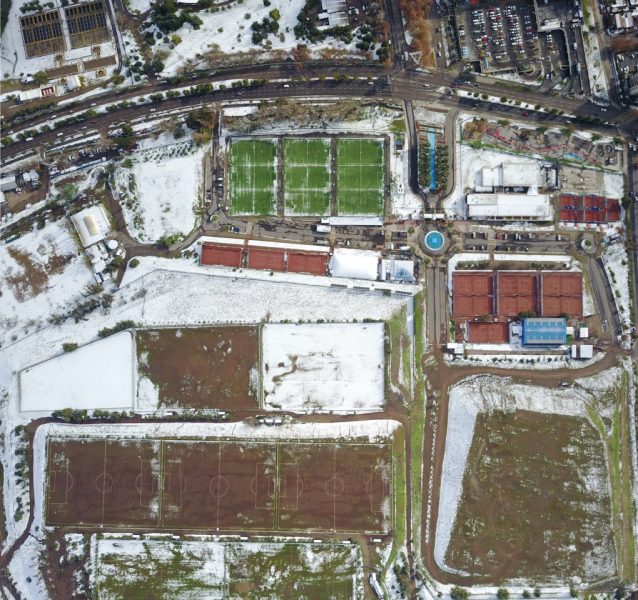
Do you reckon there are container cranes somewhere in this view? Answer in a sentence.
No, this view has no container crane in it.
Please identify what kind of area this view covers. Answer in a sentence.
It's a sports ground.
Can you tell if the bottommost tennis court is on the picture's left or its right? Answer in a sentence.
You can find the bottommost tennis court on the right side of the picture.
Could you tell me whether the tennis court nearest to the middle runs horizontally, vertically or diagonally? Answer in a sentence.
What the image shows is the tennis court nearest to the middle lying horizontally.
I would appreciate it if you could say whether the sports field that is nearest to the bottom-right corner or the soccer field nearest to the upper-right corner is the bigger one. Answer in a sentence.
The sports field covers a greater area than the soccer field.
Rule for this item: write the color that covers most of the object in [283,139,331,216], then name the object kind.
green soccer field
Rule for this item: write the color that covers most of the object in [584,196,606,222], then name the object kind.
red tennis court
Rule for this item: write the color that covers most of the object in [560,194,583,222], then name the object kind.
red tennis court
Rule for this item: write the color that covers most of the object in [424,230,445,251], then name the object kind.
blue fountain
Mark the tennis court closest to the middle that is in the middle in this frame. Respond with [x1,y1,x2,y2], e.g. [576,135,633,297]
[288,253,328,276]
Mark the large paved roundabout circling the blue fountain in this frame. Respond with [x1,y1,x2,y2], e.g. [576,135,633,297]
[400,219,452,266]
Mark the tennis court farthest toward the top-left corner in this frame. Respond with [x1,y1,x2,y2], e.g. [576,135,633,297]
[200,245,242,267]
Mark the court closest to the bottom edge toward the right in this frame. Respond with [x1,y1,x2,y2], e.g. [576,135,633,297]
[468,321,508,343]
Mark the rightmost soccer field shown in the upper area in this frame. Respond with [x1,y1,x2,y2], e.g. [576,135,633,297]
[336,139,386,216]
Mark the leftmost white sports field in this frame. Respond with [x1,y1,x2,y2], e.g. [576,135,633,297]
[19,333,133,411]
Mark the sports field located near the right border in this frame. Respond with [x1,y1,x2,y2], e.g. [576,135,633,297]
[445,409,616,584]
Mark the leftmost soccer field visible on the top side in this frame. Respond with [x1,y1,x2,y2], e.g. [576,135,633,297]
[229,138,279,216]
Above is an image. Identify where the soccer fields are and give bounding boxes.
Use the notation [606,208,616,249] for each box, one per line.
[92,541,226,600]
[275,441,394,533]
[229,138,279,216]
[45,439,161,528]
[136,325,259,411]
[283,139,331,216]
[336,139,386,216]
[264,323,384,412]
[160,439,276,531]
[227,543,363,600]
